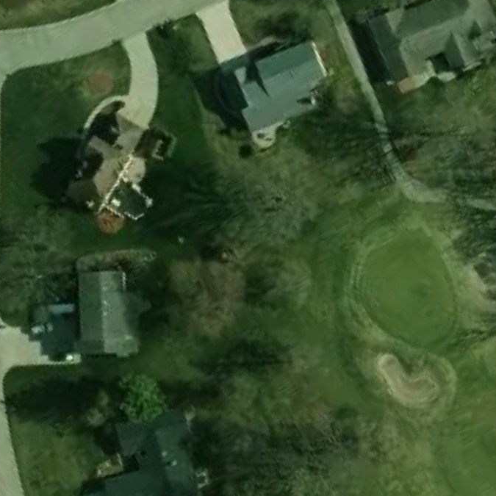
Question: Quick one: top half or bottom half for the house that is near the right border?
top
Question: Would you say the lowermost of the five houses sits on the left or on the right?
left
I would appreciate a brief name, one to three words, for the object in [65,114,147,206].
house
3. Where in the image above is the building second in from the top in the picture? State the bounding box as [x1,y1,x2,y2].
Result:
[234,40,338,134]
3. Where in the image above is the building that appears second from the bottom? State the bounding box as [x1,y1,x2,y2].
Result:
[78,269,130,354]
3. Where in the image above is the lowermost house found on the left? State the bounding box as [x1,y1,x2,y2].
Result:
[104,411,202,496]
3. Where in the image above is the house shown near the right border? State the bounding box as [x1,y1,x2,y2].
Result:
[369,0,496,78]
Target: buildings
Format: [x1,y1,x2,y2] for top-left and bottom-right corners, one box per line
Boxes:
[65,114,147,206]
[234,40,338,134]
[104,411,202,496]
[78,269,130,354]
[369,0,496,78]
